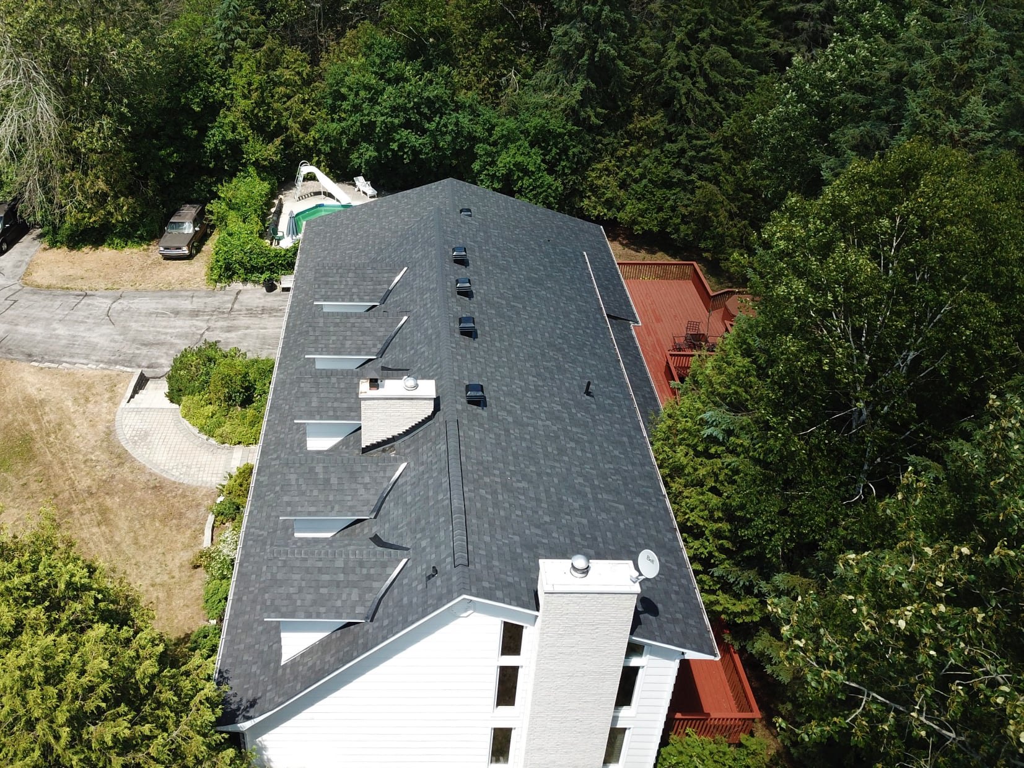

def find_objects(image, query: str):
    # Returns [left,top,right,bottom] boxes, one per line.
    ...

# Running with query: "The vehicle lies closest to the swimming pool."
[157,193,213,253]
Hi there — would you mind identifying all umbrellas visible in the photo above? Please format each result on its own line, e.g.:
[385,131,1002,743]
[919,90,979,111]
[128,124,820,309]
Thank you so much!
[285,207,297,234]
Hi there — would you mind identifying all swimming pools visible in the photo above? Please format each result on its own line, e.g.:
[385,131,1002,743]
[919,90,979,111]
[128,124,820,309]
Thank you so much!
[287,204,368,253]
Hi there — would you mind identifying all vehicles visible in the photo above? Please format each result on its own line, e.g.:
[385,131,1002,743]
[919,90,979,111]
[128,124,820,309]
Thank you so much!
[0,189,53,256]
[157,193,213,253]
